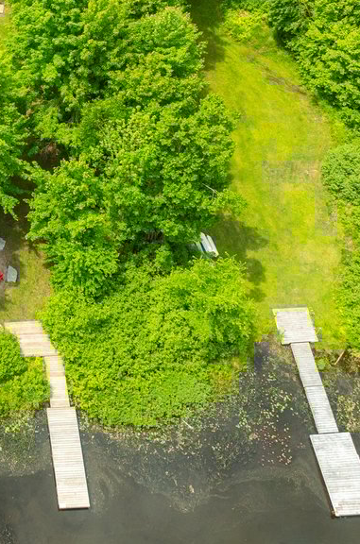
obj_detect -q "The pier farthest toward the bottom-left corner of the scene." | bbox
[46,405,91,512]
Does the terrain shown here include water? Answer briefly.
Yes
